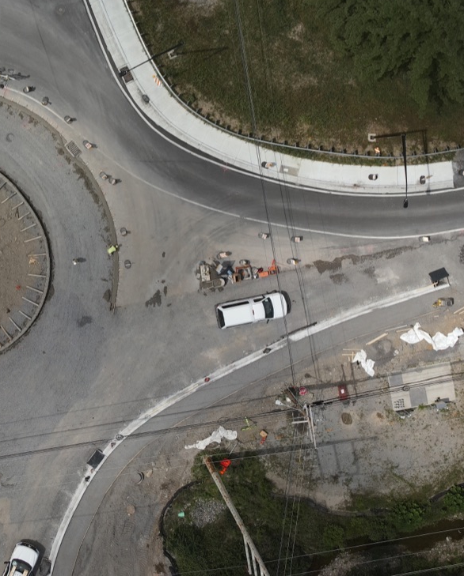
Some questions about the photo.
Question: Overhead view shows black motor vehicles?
No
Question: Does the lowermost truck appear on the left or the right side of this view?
left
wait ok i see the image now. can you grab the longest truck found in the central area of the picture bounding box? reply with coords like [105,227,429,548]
[215,293,292,329]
